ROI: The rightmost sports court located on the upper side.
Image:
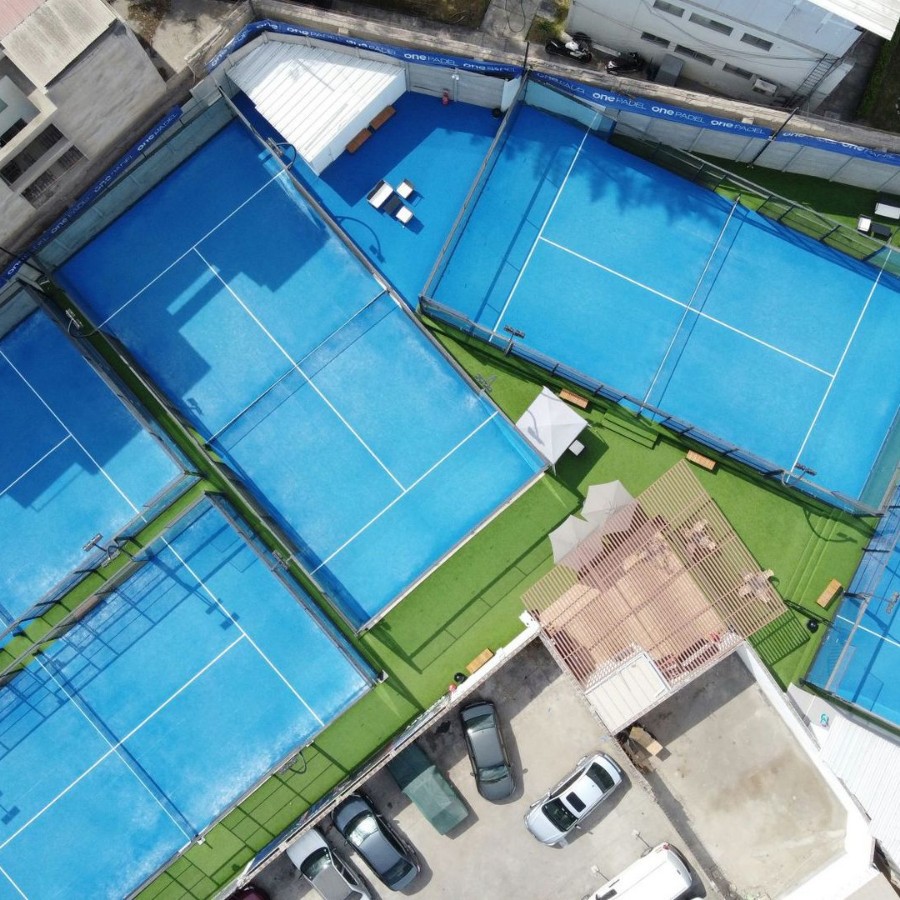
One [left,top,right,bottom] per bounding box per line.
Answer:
[422,71,900,513]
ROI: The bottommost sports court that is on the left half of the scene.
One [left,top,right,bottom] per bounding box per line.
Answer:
[0,497,379,900]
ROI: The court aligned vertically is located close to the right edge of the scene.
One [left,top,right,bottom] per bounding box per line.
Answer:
[805,461,900,724]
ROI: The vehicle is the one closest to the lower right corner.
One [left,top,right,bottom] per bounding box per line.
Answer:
[594,848,697,900]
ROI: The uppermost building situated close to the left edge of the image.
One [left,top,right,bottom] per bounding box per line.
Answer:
[0,0,168,217]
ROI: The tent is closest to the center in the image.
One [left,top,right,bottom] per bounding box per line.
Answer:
[513,388,587,465]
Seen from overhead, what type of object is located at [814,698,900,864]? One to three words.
building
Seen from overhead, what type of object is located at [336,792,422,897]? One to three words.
car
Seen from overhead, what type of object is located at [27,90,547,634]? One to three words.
sports court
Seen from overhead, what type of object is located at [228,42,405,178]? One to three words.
shed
